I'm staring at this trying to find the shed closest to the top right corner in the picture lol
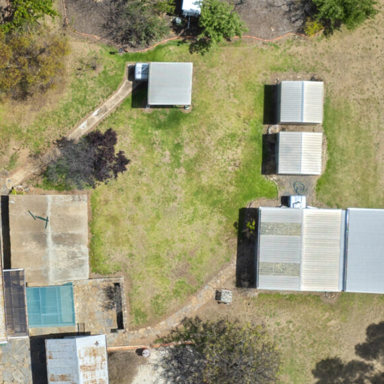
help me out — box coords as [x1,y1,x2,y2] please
[276,80,324,124]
